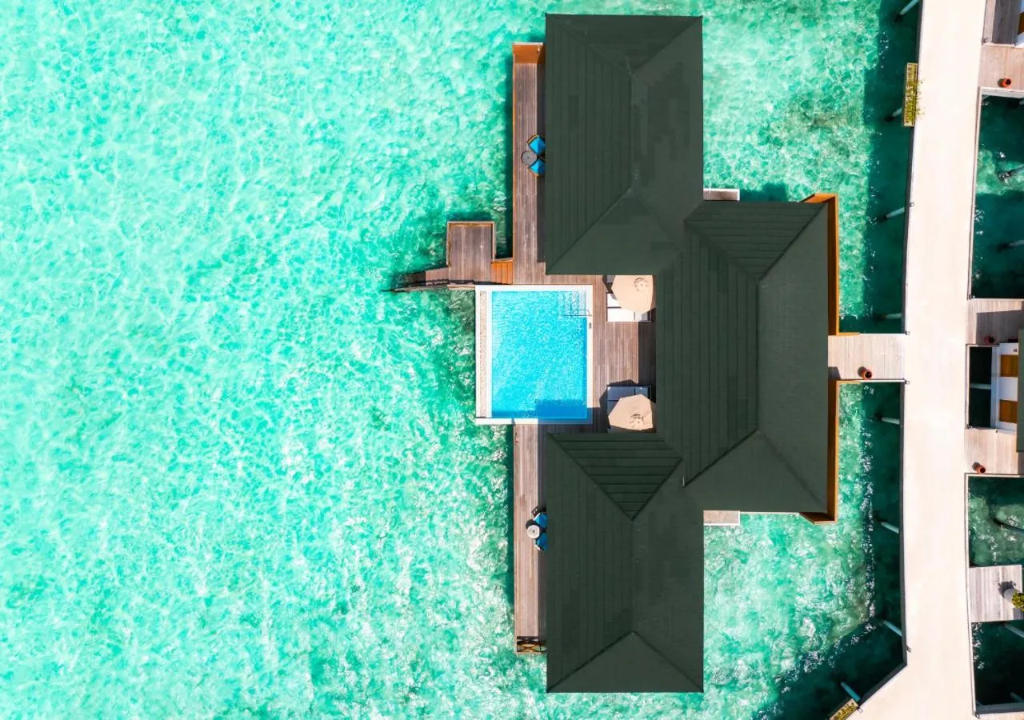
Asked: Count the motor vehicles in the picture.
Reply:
none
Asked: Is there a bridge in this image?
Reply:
Yes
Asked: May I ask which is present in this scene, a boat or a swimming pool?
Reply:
swimming pool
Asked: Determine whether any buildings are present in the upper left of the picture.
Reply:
No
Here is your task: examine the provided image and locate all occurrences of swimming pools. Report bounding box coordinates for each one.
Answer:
[476,285,593,424]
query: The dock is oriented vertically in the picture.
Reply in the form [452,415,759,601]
[846,0,986,720]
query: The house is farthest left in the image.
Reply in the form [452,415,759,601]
[513,13,830,694]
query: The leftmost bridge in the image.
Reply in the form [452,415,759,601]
[828,333,907,383]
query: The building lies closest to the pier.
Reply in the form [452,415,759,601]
[966,328,1024,454]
